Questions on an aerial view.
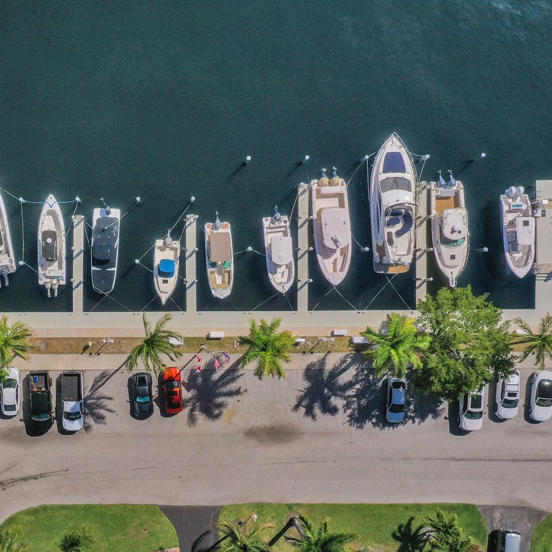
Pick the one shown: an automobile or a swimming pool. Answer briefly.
automobile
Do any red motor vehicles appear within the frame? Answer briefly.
Yes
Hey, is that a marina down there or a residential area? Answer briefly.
marina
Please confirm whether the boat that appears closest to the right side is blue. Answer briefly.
No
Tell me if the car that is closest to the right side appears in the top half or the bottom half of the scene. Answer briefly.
bottom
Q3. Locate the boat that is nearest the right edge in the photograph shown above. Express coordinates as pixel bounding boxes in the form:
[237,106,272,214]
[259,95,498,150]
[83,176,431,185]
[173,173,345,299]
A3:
[497,183,535,279]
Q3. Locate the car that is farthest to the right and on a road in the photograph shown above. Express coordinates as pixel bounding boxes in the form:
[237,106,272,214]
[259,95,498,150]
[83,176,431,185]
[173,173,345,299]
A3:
[528,369,552,421]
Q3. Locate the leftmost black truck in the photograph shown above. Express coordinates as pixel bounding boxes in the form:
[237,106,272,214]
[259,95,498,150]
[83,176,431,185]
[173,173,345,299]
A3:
[26,370,53,434]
